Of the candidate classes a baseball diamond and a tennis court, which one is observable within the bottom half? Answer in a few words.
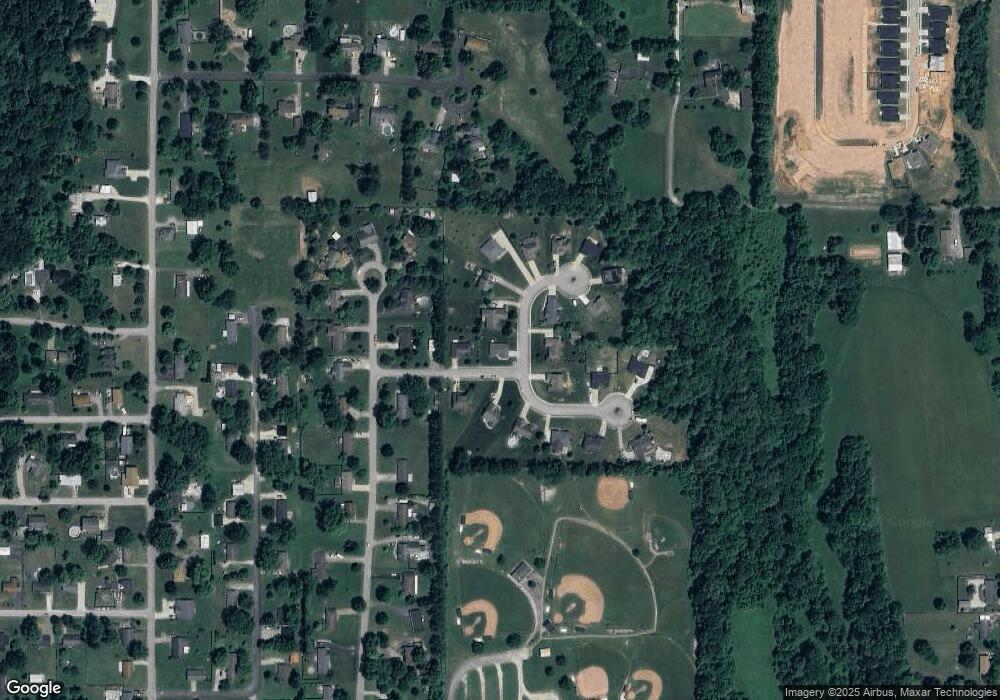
baseball diamond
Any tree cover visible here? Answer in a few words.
Yes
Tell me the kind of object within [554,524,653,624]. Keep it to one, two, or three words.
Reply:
baseball field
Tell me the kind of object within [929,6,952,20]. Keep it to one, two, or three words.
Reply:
house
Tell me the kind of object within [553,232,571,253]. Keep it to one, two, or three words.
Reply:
house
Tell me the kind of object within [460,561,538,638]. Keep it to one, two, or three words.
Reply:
baseball field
